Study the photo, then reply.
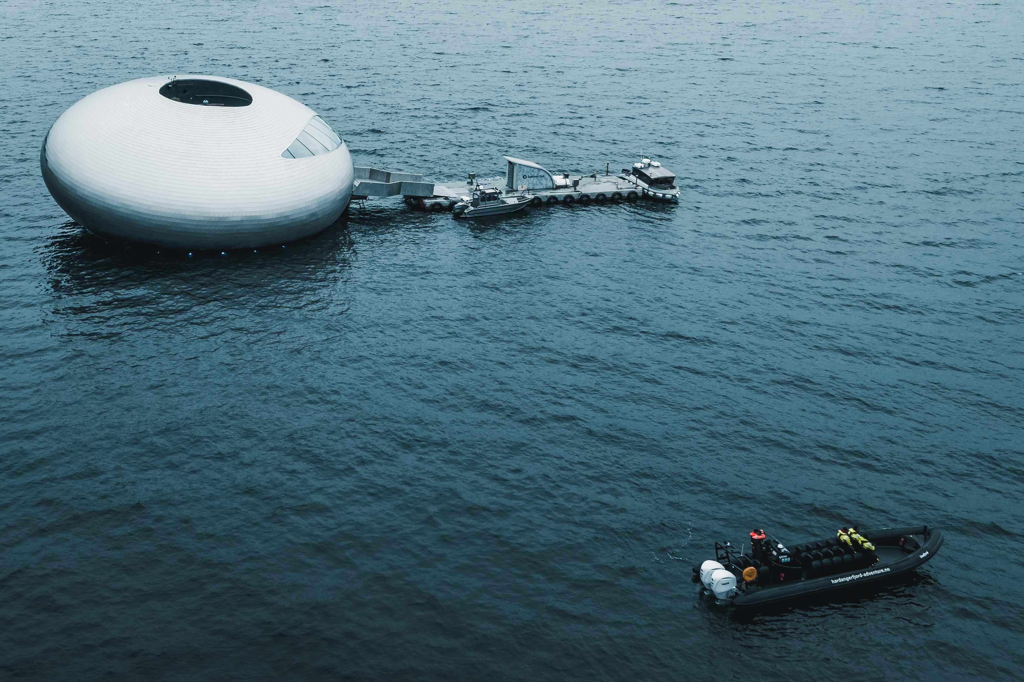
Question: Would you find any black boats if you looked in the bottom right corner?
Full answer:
Yes, a black boat shows up in the bottom right corner.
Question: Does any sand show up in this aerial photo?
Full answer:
No, there's no sand in this view.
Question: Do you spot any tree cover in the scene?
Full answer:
No, no tree cover is visible.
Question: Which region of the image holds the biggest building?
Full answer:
The biggest building is located in the top left region of the scene.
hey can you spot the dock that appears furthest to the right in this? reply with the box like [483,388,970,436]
[416,174,642,213]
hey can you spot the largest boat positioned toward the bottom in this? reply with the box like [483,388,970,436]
[697,526,940,605]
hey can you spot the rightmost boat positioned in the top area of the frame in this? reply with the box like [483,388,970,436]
[618,155,681,198]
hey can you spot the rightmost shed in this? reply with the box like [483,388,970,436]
[503,153,556,189]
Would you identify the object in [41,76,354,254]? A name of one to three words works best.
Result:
building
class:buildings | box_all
[503,153,556,189]
[41,76,354,254]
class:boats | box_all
[697,526,940,605]
[452,177,535,218]
[618,155,681,198]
